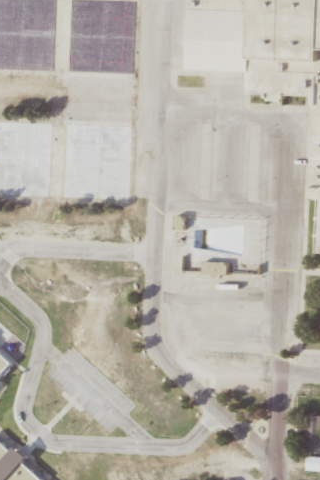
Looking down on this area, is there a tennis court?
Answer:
Yes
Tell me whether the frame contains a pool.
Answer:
Yes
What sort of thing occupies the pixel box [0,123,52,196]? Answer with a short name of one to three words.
sports court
